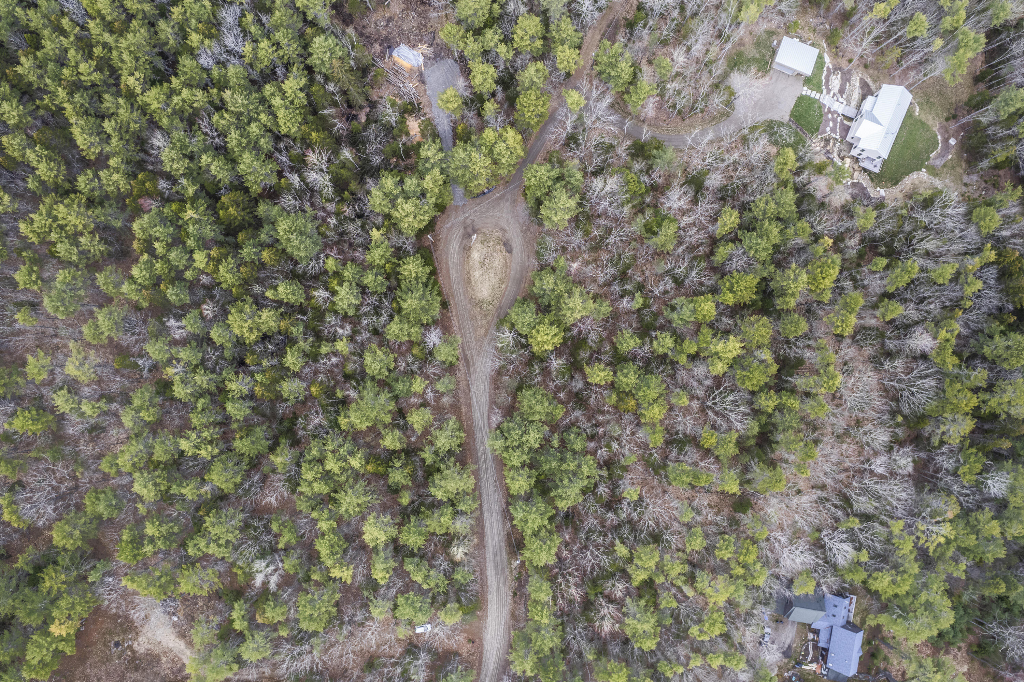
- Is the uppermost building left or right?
right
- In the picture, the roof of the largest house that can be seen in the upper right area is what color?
white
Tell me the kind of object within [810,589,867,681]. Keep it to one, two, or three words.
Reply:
house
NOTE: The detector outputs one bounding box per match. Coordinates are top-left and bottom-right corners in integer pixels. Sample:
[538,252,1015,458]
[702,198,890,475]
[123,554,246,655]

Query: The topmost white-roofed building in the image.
[770,36,819,77]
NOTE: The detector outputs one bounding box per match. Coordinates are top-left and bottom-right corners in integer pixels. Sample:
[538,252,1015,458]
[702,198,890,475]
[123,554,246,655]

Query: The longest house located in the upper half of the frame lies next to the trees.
[845,84,913,172]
